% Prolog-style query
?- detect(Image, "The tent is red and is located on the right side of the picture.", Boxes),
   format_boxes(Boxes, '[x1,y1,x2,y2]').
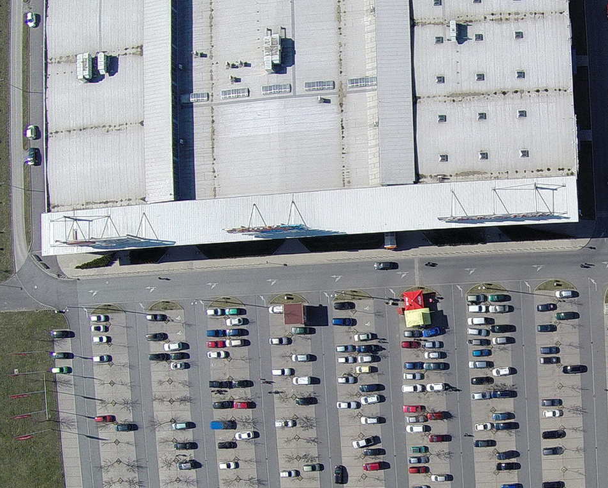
[404,290,424,310]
